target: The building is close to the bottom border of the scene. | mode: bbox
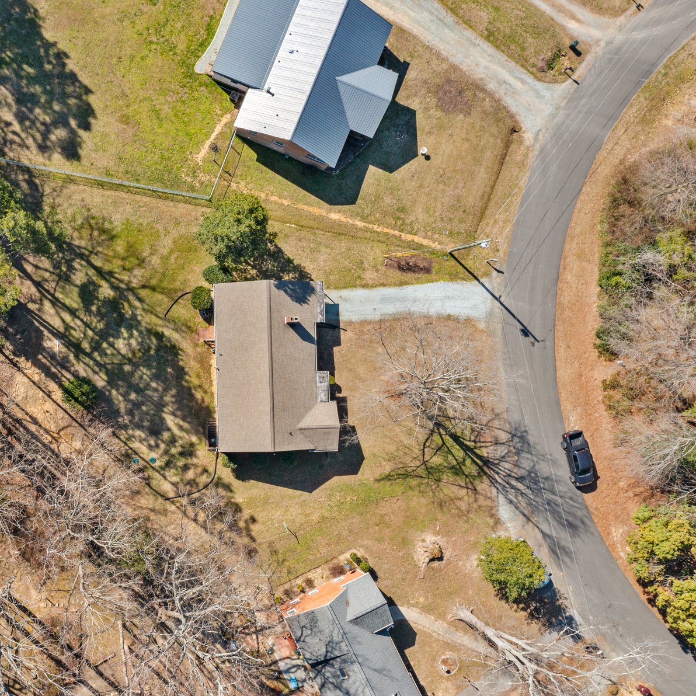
[281,571,423,696]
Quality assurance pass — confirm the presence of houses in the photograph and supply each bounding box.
[281,571,423,696]
[213,280,340,453]
[213,0,398,181]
